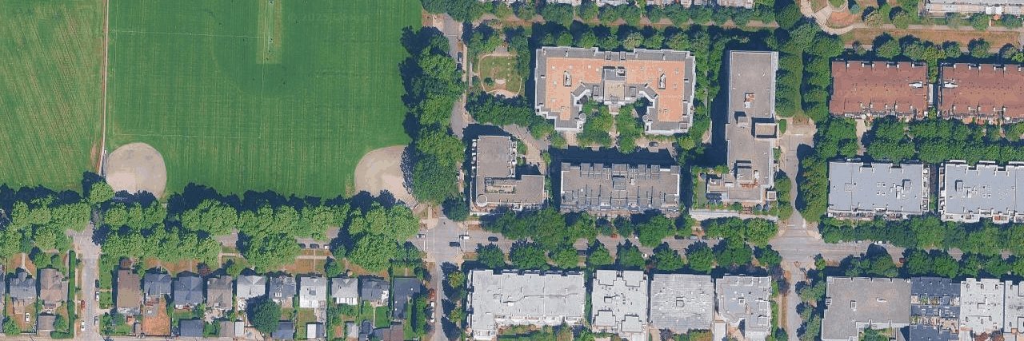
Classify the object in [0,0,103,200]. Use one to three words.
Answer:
sports field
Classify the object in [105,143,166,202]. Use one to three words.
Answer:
baseball field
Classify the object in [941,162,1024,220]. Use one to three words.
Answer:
building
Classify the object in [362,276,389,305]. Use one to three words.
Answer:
house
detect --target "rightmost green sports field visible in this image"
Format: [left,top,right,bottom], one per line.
[105,0,422,208]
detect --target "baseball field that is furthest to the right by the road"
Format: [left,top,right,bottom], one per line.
[353,144,422,209]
